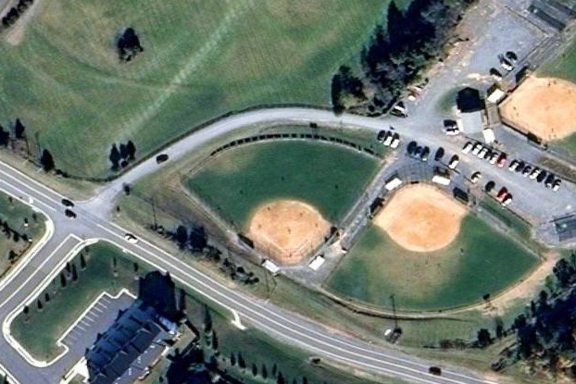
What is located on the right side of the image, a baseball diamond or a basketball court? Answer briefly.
baseball diamond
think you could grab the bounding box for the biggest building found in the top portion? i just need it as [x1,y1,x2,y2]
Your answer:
[457,112,483,133]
